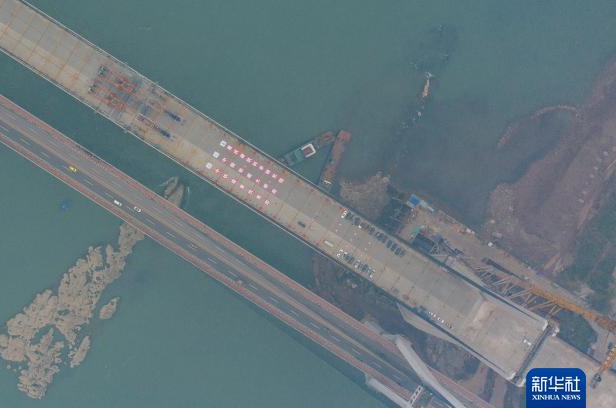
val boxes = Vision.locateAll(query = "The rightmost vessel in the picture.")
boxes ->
[321,130,353,190]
